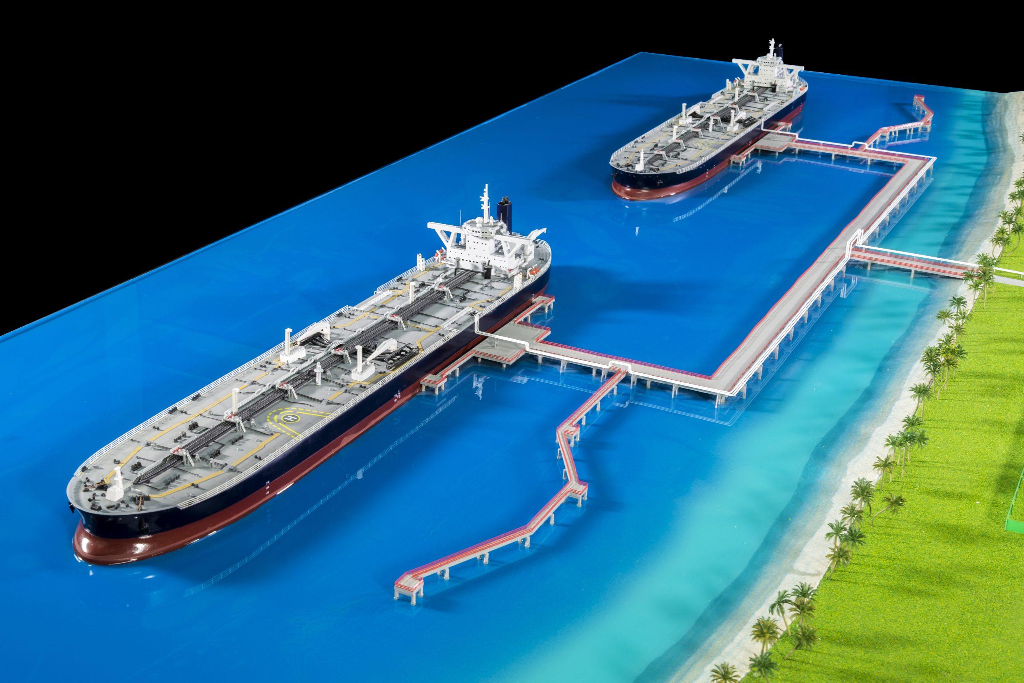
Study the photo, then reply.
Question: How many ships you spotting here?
2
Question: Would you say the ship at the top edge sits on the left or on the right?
right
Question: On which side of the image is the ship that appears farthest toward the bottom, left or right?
left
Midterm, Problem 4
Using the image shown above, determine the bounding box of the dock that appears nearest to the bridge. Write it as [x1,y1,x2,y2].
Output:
[707,160,927,394]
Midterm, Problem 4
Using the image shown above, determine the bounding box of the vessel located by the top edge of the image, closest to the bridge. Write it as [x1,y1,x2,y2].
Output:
[609,31,812,200]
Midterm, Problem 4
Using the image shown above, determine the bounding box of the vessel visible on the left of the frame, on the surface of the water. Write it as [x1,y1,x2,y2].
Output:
[70,184,551,563]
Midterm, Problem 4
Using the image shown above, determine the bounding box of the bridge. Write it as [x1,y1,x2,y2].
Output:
[845,249,1024,291]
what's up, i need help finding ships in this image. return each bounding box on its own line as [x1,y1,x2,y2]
[70,184,551,563]
[609,31,812,200]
